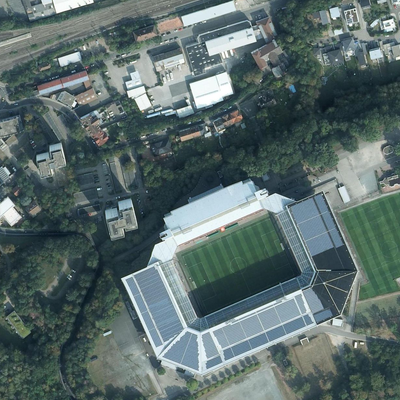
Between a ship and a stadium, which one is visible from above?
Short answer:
stadium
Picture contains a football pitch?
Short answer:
Yes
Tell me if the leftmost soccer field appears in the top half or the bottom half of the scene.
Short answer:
bottom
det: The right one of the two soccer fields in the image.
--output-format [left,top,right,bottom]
[340,190,400,299]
